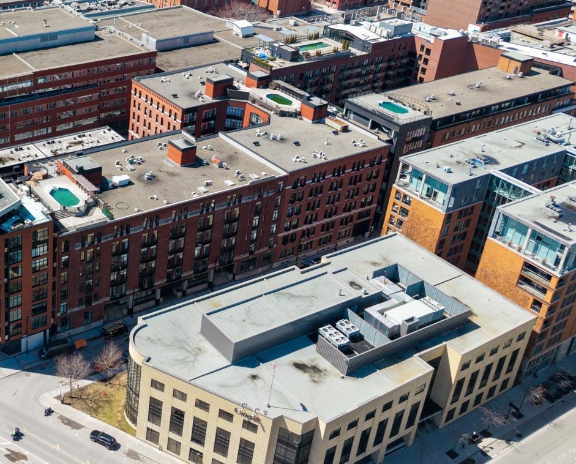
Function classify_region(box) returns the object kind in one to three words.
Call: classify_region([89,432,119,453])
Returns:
car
